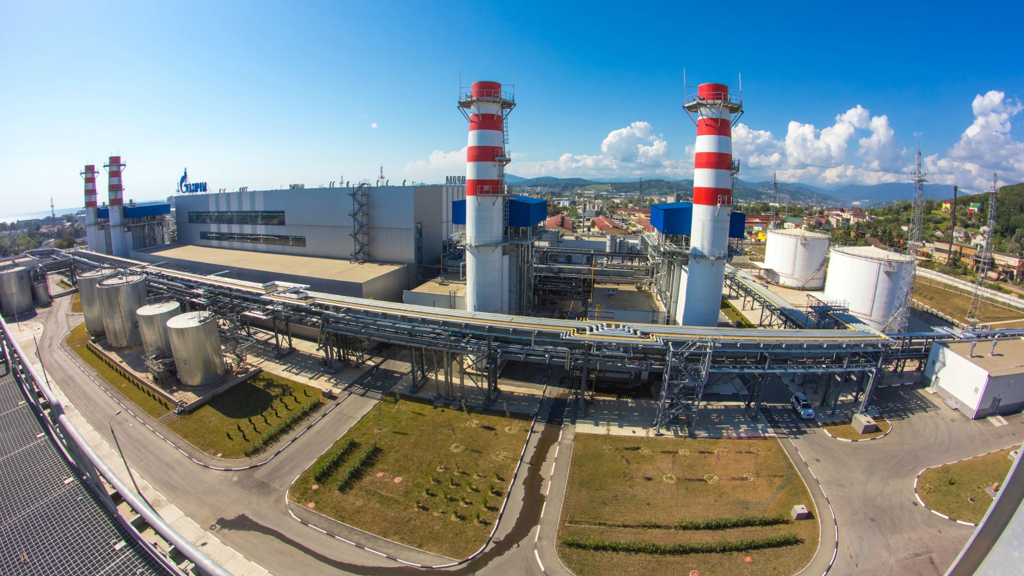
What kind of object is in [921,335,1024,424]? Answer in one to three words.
building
